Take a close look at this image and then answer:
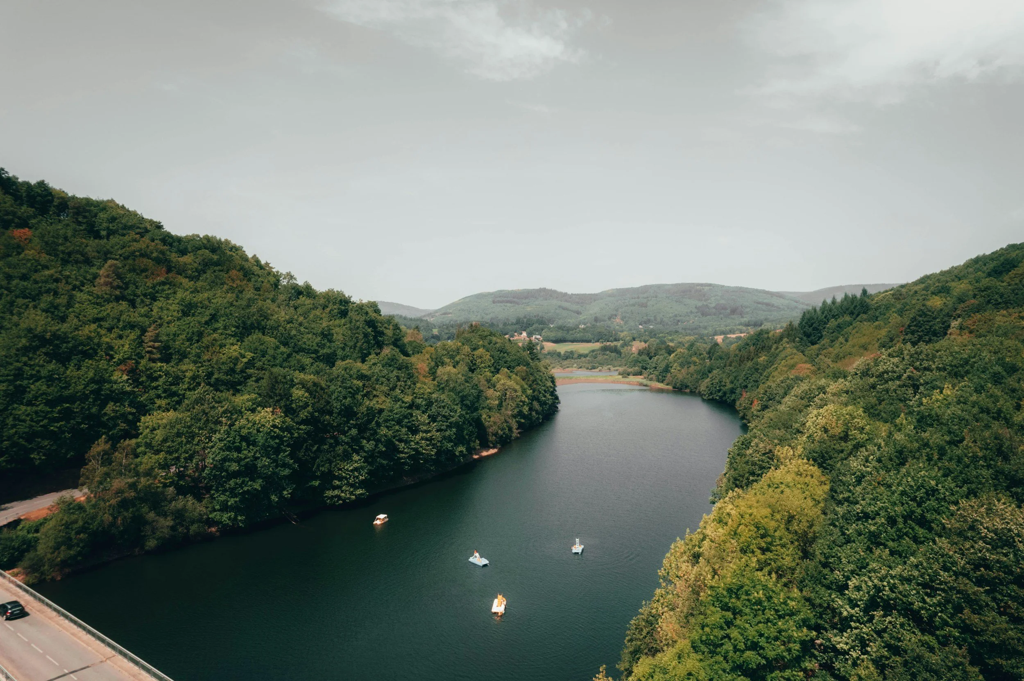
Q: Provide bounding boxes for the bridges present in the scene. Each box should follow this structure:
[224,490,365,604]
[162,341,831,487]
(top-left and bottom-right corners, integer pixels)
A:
[0,572,170,681]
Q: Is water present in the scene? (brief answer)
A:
Yes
